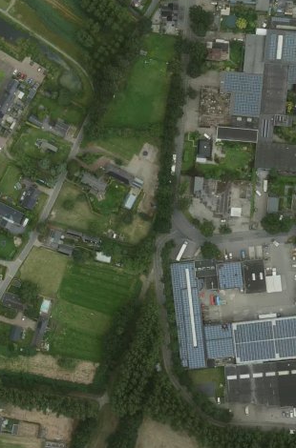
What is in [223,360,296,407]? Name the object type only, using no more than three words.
building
